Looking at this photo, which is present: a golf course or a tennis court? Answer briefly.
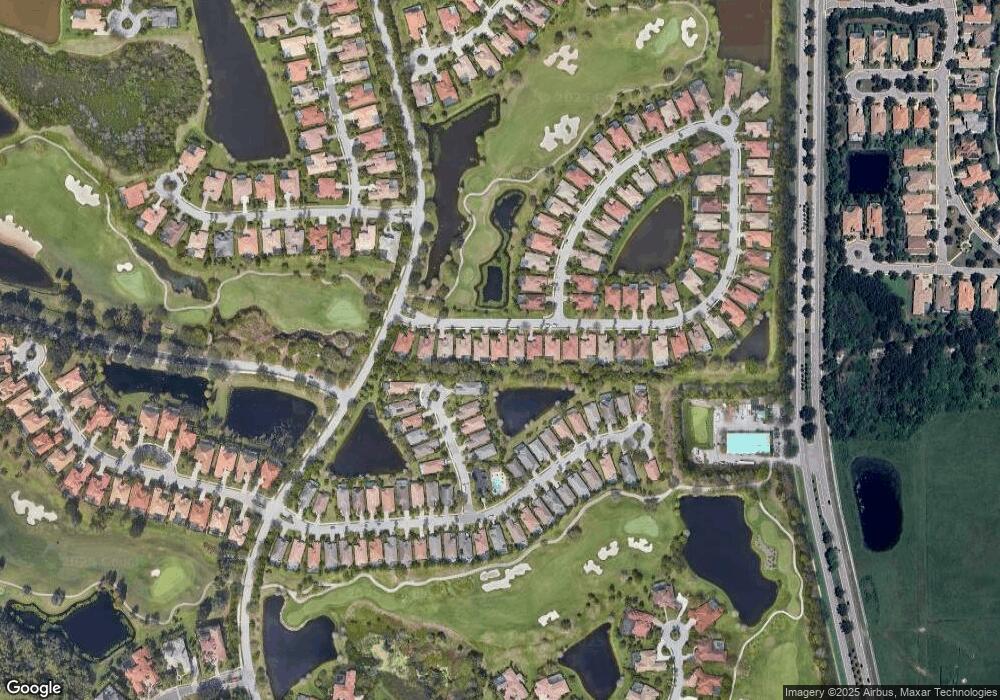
golf course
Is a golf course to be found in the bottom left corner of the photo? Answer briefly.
Yes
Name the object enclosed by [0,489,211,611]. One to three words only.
golf course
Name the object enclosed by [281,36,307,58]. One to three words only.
house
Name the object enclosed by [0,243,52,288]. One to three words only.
pond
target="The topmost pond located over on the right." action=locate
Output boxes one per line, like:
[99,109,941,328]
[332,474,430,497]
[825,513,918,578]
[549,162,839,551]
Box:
[716,0,776,74]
